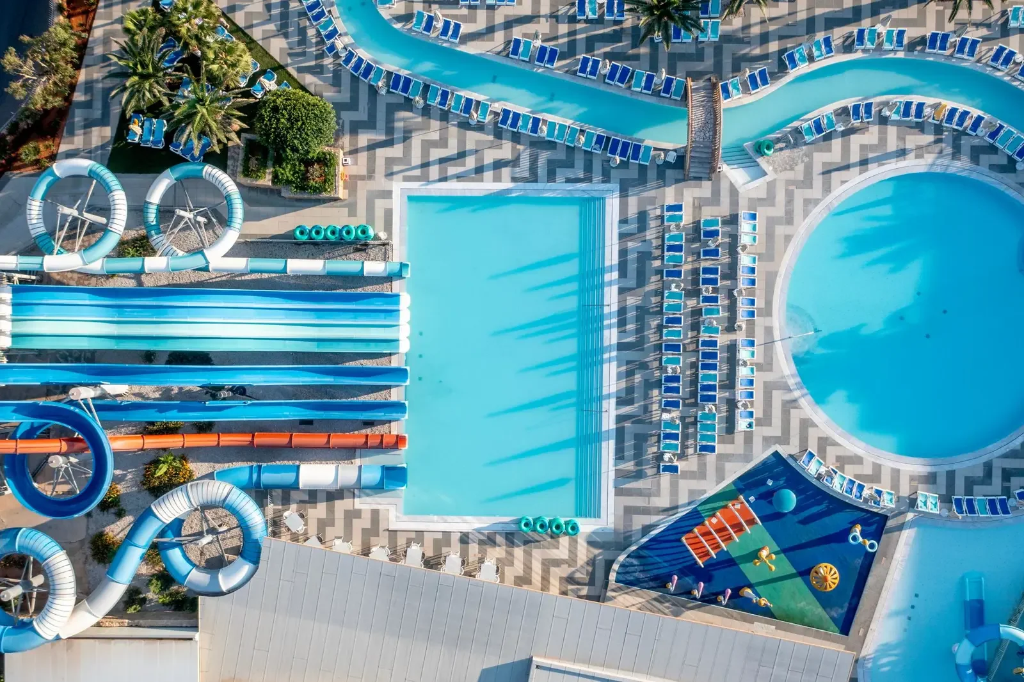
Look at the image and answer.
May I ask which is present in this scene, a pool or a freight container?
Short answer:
pool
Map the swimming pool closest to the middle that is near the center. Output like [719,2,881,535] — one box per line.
[403,196,605,516]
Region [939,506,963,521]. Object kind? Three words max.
umbrella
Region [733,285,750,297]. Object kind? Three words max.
umbrella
